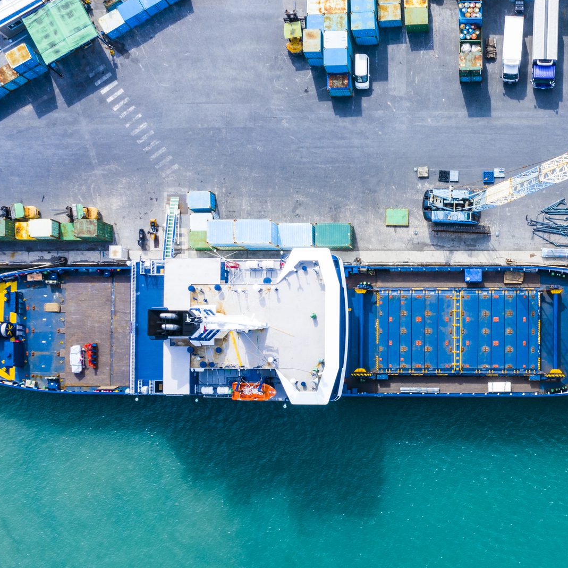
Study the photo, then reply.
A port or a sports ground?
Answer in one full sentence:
This looks like a port.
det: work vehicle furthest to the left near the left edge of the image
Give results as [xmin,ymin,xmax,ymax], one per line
[4,203,40,220]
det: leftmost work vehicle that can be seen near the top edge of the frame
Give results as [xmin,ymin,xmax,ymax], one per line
[285,17,304,55]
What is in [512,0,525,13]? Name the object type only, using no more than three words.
vehicle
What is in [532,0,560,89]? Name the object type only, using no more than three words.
truck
